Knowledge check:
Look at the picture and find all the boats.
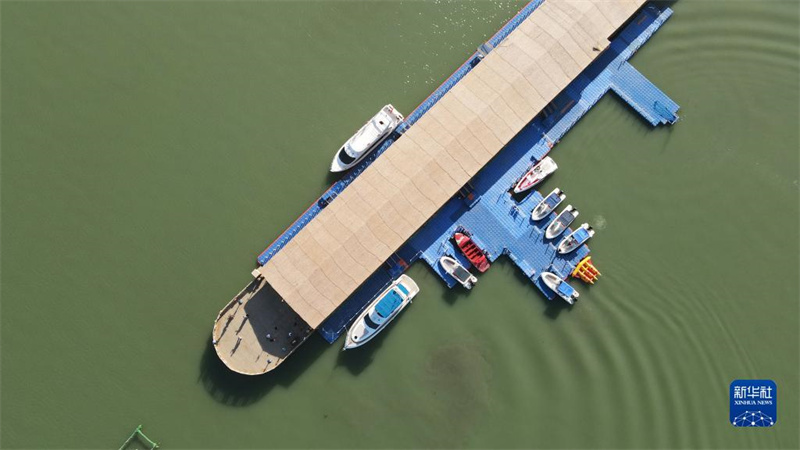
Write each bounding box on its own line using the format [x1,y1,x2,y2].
[542,206,577,239]
[439,248,476,288]
[330,105,406,174]
[530,189,565,221]
[541,264,578,305]
[448,234,489,273]
[556,223,592,255]
[504,156,558,198]
[334,274,419,351]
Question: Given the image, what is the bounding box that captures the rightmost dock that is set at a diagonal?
[611,67,678,127]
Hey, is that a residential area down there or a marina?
marina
